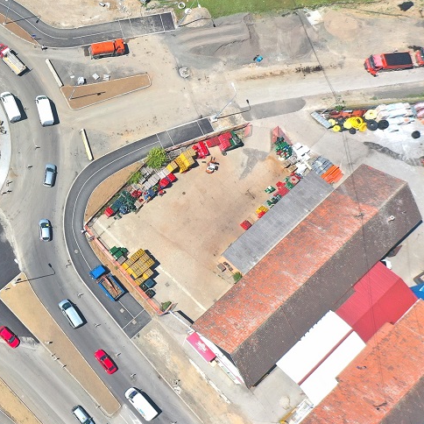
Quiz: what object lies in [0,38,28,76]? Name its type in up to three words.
truck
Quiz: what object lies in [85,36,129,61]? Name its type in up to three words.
truck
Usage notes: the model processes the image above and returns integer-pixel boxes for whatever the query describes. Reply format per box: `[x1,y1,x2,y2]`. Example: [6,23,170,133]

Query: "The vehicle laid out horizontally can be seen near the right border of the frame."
[362,47,420,71]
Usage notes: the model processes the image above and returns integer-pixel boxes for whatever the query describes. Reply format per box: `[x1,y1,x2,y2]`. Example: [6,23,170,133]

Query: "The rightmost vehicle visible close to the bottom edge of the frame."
[126,385,161,424]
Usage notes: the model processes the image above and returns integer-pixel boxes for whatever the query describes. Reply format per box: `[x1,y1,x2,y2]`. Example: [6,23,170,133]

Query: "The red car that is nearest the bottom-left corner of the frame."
[0,323,22,349]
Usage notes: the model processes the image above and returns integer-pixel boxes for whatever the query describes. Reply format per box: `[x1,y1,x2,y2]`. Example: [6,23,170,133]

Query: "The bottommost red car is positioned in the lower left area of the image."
[95,347,119,376]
